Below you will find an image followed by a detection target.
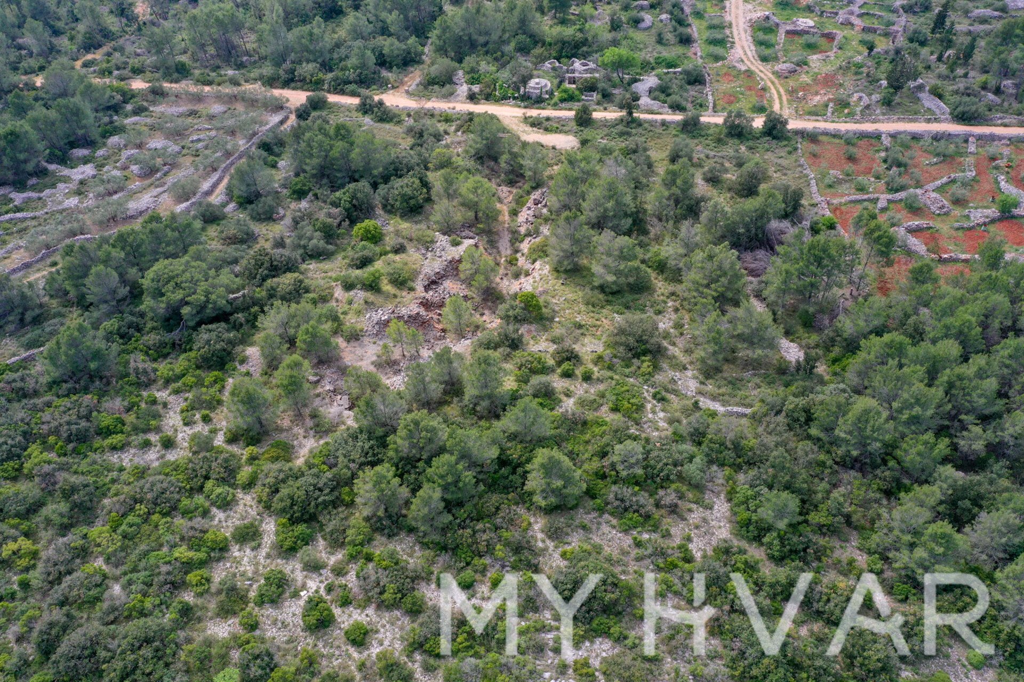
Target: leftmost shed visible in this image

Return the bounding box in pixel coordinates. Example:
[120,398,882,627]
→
[522,79,555,103]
